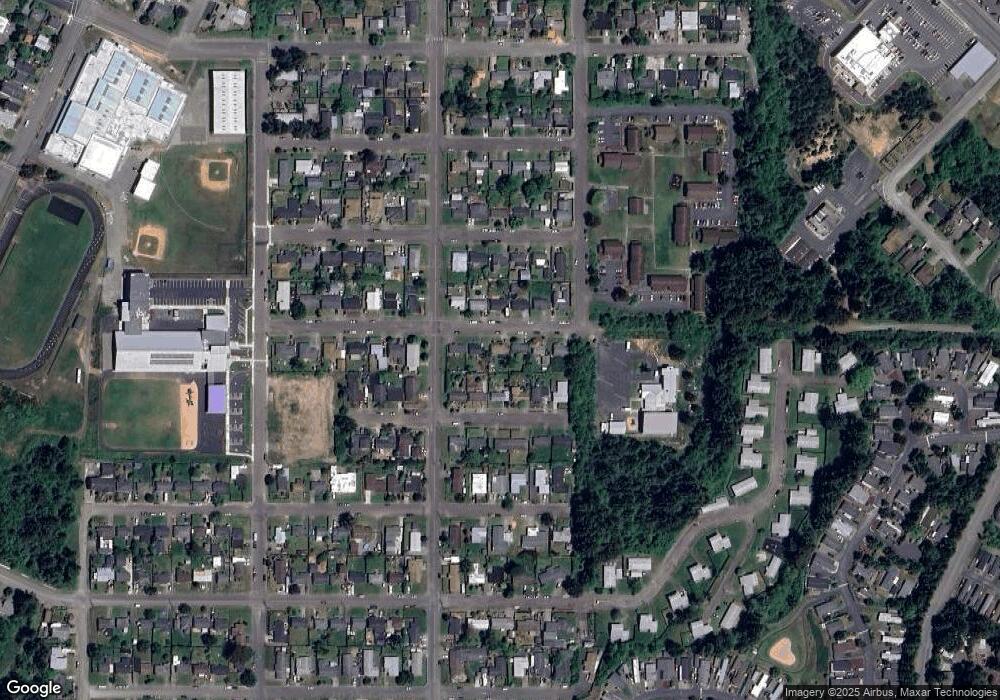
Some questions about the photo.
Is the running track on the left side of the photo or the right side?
left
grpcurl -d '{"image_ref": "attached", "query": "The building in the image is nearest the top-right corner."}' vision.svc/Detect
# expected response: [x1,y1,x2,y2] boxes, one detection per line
[949,41,997,82]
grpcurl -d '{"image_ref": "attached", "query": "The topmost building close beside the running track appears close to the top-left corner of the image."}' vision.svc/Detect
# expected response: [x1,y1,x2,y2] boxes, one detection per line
[44,39,186,179]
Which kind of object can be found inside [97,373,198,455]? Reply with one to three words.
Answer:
sports field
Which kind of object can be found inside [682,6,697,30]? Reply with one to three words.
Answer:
house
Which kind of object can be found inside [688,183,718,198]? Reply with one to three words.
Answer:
building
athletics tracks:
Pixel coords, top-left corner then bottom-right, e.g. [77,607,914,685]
[0,182,104,379]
